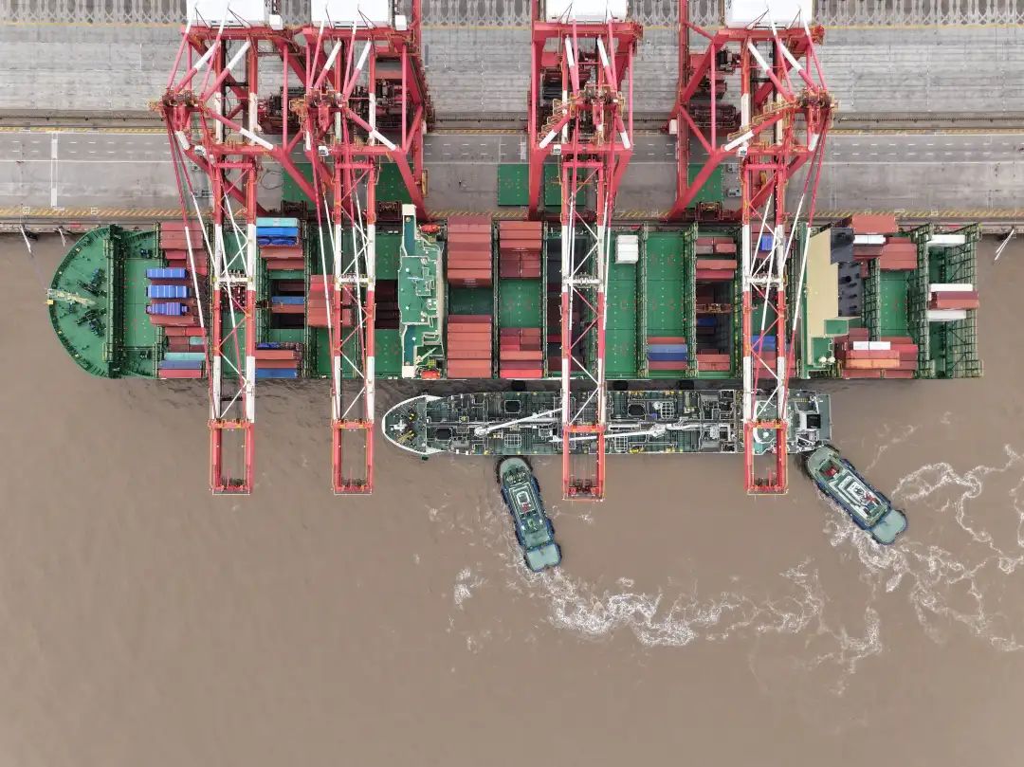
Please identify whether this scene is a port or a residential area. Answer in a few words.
port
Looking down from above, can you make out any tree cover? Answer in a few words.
No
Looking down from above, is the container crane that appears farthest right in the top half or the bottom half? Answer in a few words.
top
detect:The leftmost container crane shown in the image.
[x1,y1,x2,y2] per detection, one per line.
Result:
[139,0,351,500]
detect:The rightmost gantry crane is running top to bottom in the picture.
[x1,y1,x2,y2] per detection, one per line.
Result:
[649,0,846,500]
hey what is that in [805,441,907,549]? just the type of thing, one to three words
boat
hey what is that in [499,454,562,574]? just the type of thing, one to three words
boat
